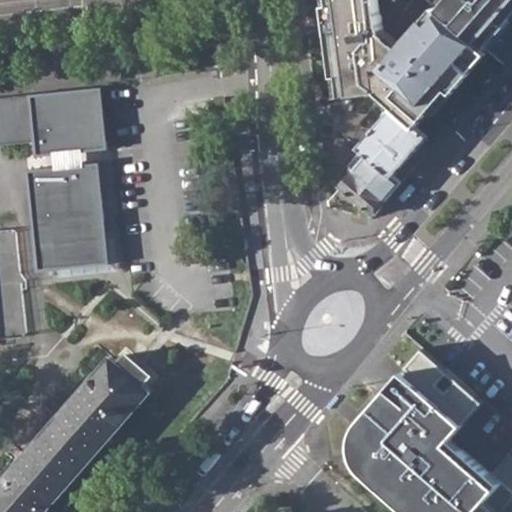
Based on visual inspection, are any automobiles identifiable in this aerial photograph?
Yes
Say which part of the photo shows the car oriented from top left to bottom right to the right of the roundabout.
right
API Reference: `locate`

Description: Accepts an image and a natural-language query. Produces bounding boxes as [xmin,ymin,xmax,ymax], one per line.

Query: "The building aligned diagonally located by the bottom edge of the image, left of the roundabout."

[0,358,149,512]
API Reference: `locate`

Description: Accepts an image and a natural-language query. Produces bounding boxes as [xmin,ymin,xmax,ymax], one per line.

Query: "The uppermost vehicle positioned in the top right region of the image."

[490,108,508,127]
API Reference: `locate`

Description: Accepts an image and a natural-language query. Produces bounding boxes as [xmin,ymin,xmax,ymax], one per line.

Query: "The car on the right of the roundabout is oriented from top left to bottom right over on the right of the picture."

[478,258,500,278]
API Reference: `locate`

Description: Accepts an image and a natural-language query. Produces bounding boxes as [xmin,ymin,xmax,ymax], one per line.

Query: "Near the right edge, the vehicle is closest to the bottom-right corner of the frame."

[483,412,502,432]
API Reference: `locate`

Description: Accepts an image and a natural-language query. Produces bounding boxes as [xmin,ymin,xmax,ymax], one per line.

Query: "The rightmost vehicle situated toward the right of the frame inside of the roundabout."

[361,256,382,274]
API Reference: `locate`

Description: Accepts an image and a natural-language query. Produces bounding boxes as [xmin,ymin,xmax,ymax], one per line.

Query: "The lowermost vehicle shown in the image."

[198,452,220,478]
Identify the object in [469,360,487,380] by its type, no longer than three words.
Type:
car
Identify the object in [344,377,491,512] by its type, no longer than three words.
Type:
building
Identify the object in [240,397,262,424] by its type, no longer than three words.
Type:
vehicle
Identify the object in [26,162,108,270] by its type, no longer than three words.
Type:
building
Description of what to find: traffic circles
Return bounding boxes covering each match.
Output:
[258,238,445,414]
